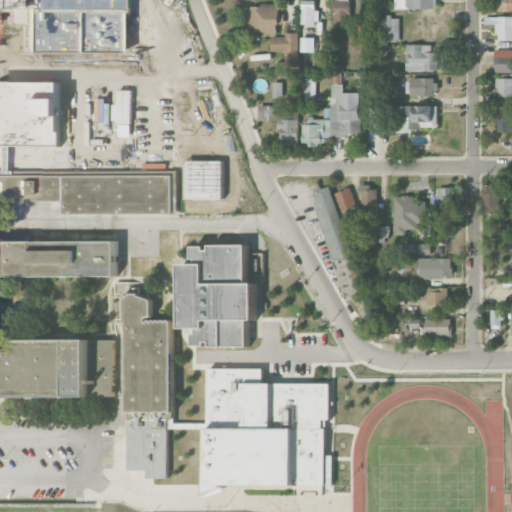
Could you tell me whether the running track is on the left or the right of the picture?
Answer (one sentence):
The running track appears in the right half of the scene.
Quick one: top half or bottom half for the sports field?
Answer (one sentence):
The sports field sits in the bottom half of the picture.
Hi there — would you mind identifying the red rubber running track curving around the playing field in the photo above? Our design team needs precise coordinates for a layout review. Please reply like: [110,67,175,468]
[353,386,504,512]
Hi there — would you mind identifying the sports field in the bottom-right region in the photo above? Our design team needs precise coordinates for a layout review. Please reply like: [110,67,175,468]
[370,445,483,512]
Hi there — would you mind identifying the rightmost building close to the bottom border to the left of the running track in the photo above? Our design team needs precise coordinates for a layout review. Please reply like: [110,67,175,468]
[201,368,332,486]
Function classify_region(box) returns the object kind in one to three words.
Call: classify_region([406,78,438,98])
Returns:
house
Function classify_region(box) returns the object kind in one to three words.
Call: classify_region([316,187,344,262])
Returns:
shed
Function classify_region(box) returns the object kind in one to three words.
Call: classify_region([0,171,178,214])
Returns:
building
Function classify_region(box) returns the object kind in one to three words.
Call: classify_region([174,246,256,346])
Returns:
building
